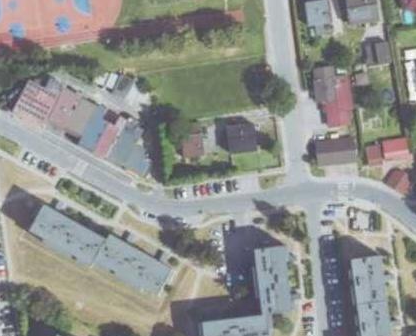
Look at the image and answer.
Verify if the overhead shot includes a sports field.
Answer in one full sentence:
Yes, a sports field appears in the view.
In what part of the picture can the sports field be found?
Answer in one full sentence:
The sports field is in the top part of the image.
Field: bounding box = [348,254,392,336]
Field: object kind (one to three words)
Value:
building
